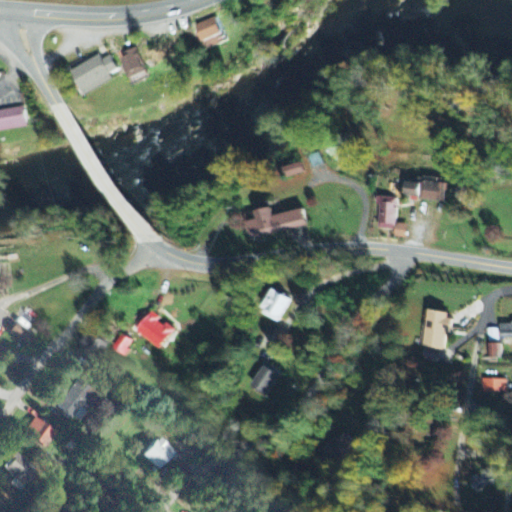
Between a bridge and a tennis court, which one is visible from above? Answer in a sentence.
Looking from above, you can make out a bridge.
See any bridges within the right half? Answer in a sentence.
No, I can find no bridge within the right half.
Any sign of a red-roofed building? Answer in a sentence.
Yes, there is a red-roofed building in the image.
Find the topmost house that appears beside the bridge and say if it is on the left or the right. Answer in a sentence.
It is on the left.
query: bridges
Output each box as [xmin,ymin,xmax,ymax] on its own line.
[52,100,156,248]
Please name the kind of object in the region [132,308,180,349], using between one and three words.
house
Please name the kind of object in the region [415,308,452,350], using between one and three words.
house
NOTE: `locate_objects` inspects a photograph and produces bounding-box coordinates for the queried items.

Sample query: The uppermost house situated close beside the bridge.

[70,48,122,96]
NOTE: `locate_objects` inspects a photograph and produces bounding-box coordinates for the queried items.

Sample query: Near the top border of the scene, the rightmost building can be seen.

[196,16,228,47]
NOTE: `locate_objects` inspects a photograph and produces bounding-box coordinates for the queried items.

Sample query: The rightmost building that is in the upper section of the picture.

[402,180,446,202]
